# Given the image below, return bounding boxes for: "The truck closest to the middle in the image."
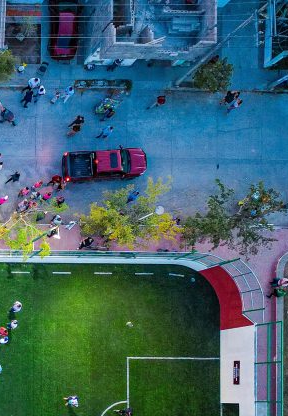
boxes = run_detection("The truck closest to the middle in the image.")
[57,146,144,184]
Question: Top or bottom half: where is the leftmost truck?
top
